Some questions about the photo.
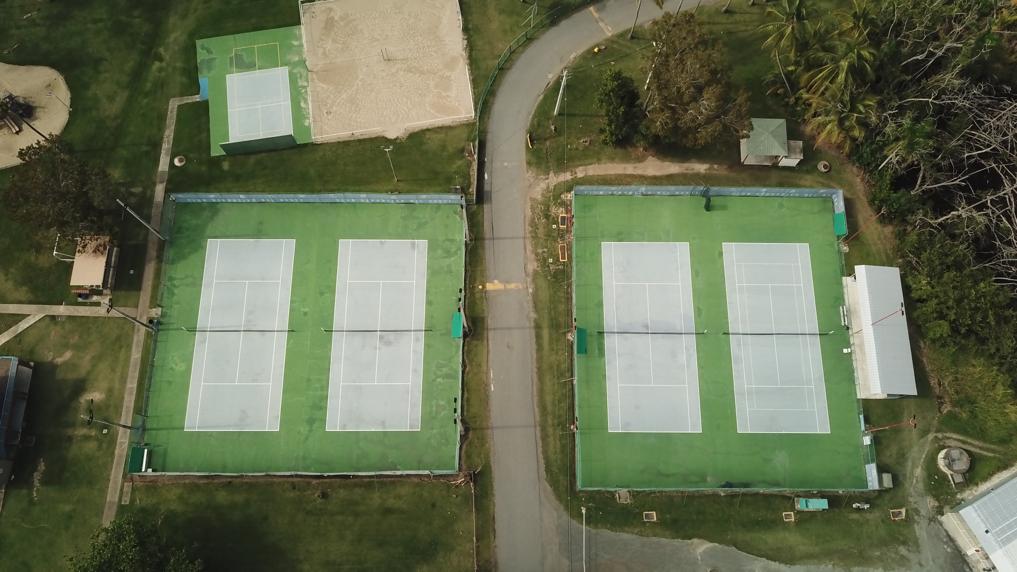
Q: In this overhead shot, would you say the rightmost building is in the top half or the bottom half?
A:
bottom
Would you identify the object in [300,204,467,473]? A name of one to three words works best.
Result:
tennis court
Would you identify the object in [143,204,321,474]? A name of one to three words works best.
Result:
tennis court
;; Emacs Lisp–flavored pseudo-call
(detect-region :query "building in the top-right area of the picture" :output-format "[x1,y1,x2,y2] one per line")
[740,118,804,167]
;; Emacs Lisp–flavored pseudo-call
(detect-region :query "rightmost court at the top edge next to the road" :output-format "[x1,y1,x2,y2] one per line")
[301,0,475,142]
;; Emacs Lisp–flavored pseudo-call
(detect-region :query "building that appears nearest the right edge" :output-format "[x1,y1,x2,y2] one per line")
[922,464,1017,572]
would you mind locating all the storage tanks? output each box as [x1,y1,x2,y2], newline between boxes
[939,446,973,490]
